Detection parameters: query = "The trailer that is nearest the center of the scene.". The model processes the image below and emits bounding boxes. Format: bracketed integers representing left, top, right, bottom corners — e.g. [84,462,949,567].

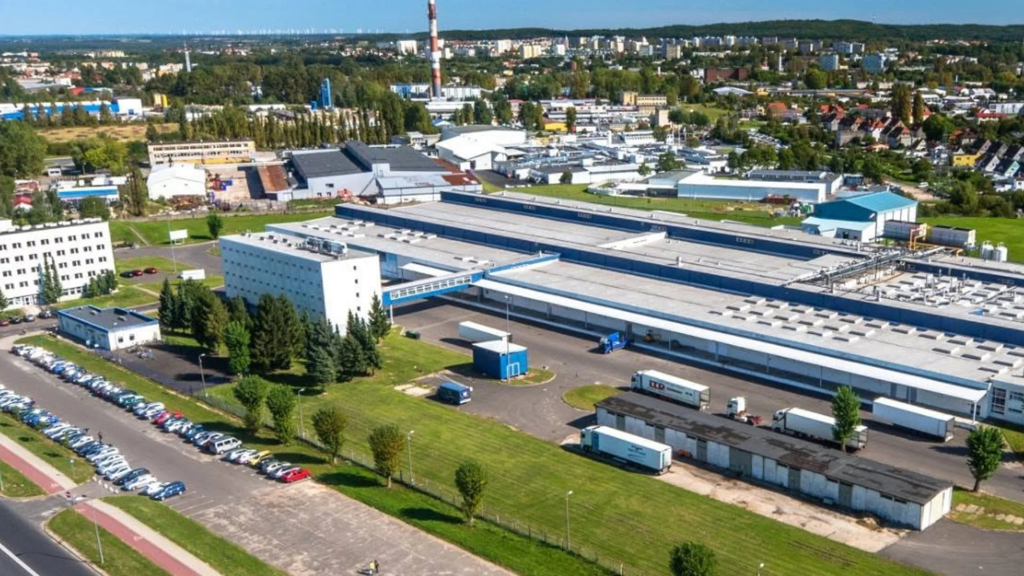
[459,322,509,343]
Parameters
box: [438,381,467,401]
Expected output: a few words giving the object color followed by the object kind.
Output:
blue vehicle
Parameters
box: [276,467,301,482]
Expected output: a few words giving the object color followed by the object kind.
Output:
red car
